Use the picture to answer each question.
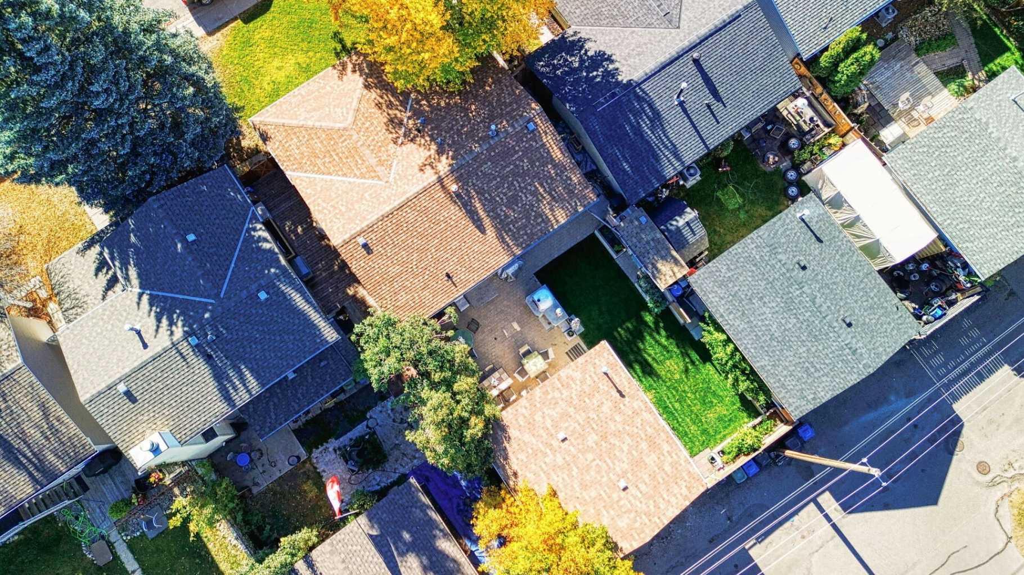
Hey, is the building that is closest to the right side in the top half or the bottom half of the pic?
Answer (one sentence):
The building that is closest to the right side is in the top half of the image.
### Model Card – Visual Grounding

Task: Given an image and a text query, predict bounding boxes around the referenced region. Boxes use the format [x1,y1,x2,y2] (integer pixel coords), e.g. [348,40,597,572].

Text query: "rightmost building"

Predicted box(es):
[881,64,1024,282]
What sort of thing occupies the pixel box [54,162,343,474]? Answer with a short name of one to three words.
house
